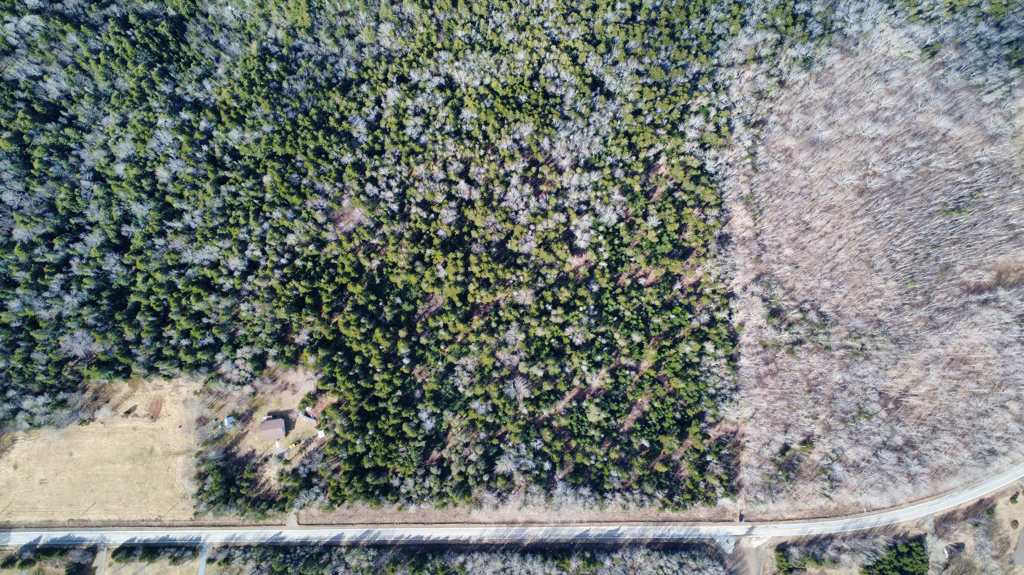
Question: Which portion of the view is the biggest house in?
bottom left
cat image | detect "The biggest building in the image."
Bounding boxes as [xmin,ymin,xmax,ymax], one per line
[261,416,286,441]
